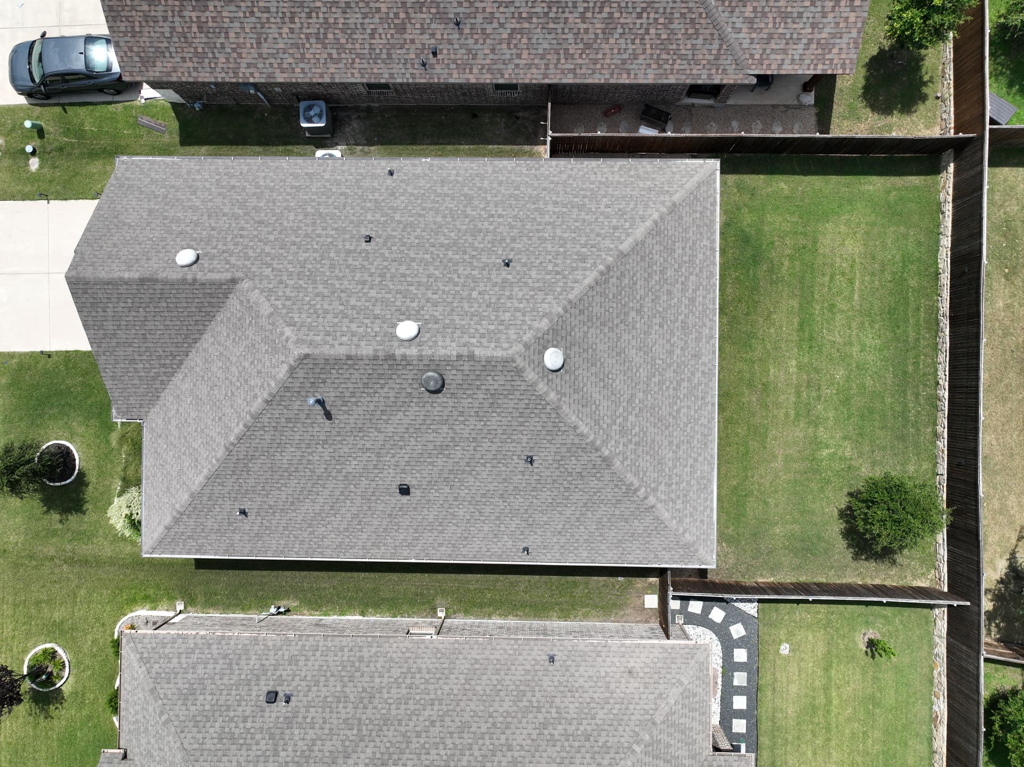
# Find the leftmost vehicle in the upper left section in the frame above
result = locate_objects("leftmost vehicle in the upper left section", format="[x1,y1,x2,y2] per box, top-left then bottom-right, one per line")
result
[4,32,134,99]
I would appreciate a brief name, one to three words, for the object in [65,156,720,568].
house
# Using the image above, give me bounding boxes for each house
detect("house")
[98,609,756,767]
[102,0,871,111]
[65,156,720,568]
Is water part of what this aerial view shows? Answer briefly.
No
